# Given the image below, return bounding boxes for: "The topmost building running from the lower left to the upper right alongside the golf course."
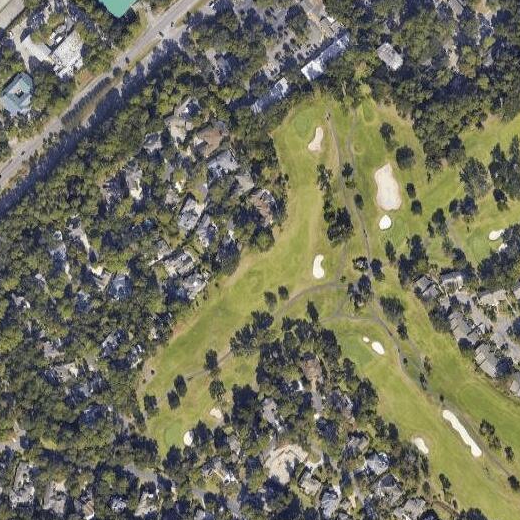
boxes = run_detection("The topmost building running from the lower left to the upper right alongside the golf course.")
[302,34,352,80]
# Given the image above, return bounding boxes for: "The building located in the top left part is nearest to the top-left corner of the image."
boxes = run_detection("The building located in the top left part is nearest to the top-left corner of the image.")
[0,0,26,31]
